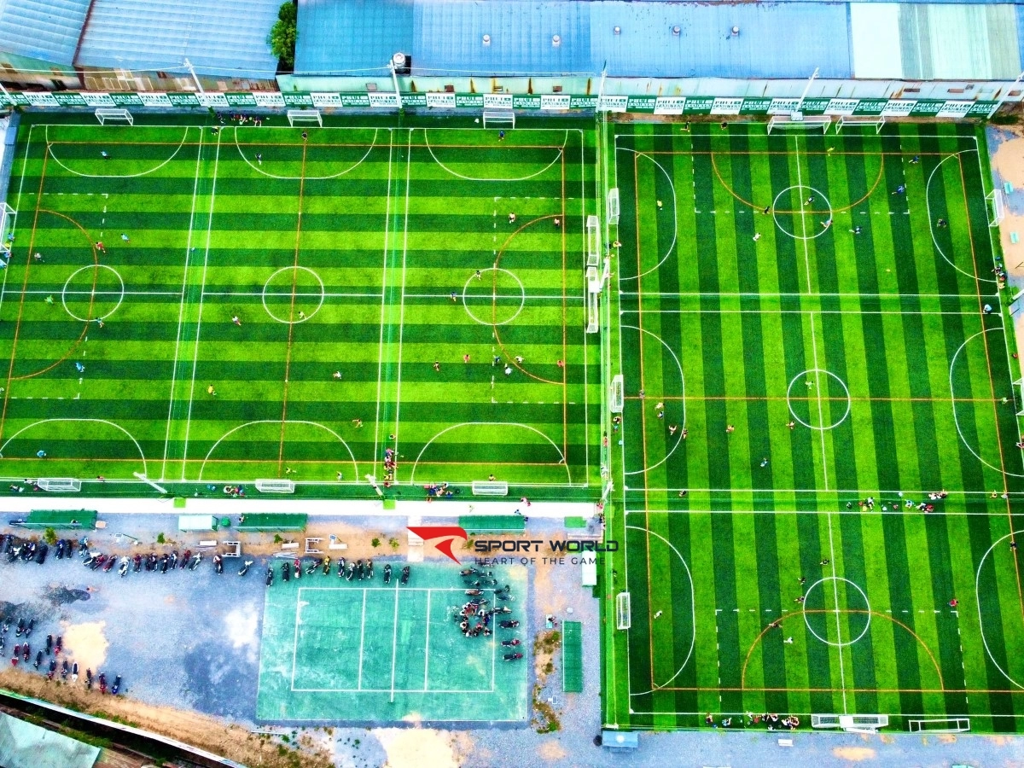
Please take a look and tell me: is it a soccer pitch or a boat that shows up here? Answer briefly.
soccer pitch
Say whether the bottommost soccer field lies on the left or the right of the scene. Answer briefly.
right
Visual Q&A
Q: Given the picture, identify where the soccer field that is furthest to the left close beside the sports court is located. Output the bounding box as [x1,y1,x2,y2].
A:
[0,124,202,481]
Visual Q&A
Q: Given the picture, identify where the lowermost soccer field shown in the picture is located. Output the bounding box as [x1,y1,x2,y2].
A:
[625,511,1024,716]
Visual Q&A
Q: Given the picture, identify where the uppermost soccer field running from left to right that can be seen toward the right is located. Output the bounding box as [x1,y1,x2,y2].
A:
[615,135,1000,296]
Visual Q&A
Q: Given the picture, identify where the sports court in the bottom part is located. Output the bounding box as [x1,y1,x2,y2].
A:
[258,560,528,722]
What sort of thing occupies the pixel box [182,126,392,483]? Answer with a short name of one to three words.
soccer field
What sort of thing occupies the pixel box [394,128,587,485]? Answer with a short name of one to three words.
soccer field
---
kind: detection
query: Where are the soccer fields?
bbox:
[182,126,392,483]
[625,511,1024,716]
[615,135,1000,296]
[619,311,1024,492]
[394,128,587,485]
[0,128,581,481]
[626,138,1024,712]
[0,124,202,481]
